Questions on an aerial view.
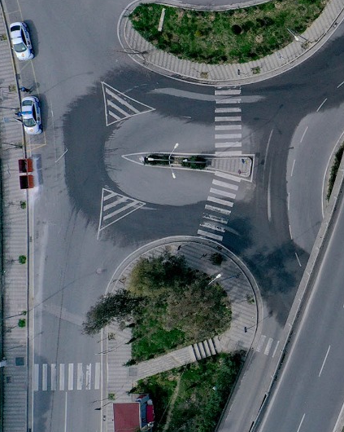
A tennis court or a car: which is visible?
car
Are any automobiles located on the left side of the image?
Yes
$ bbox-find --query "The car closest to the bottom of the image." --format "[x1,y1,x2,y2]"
[21,97,45,136]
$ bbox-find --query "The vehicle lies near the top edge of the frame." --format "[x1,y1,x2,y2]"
[10,21,36,62]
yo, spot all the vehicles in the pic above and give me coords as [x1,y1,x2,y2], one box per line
[21,97,45,136]
[10,21,36,62]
